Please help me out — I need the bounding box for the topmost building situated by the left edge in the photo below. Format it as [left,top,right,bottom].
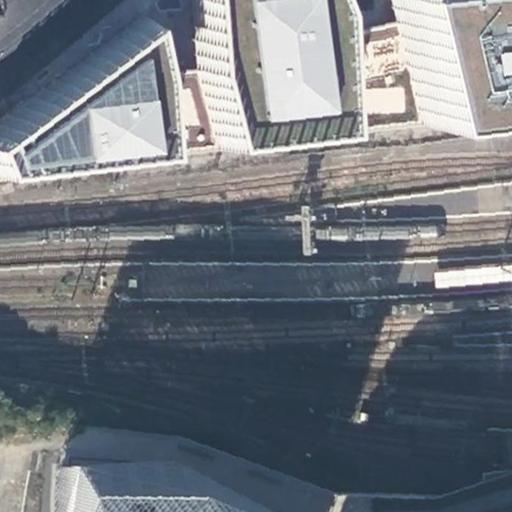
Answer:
[0,20,188,184]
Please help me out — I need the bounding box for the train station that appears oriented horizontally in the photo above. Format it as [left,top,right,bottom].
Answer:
[0,181,512,437]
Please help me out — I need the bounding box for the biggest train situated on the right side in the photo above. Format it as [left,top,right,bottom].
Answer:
[312,224,446,239]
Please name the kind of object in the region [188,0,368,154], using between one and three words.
building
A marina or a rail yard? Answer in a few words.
rail yard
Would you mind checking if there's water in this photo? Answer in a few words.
No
